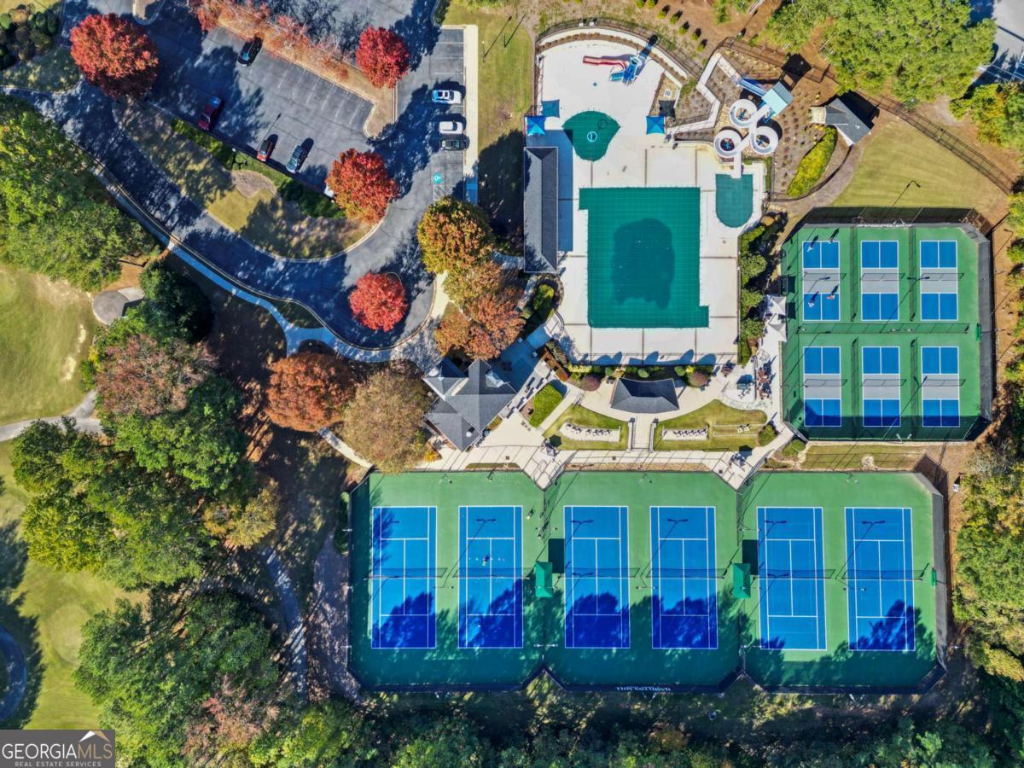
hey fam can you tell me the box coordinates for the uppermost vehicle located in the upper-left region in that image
[240,37,261,66]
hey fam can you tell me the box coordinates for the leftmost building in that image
[423,355,517,450]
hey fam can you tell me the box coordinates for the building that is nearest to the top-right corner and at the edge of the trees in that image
[809,98,870,148]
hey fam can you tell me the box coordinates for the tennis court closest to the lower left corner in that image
[364,507,442,649]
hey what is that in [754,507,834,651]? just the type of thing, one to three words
tennis court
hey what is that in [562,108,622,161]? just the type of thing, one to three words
swimming pool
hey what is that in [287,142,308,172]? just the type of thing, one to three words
car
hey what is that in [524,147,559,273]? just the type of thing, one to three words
building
